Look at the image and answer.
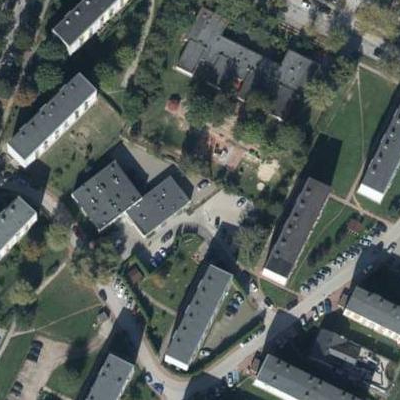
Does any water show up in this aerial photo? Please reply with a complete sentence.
No, there is no water in the image.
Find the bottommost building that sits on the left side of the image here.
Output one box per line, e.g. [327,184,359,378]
[85,353,136,400]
